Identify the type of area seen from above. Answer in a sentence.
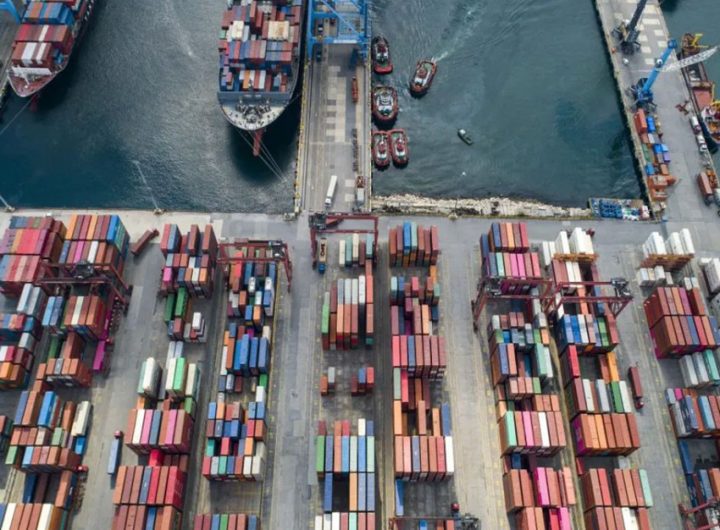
It's a port.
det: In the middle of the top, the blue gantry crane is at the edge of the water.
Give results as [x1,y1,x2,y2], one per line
[304,0,371,63]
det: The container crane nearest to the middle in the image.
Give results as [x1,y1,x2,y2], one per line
[311,212,382,268]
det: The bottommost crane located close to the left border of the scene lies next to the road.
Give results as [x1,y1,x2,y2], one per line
[35,260,131,316]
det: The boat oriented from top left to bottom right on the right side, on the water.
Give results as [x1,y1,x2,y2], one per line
[457,130,472,145]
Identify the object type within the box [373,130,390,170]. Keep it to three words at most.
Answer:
boat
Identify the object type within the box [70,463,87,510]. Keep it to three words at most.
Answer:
vehicle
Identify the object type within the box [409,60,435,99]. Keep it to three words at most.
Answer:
boat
